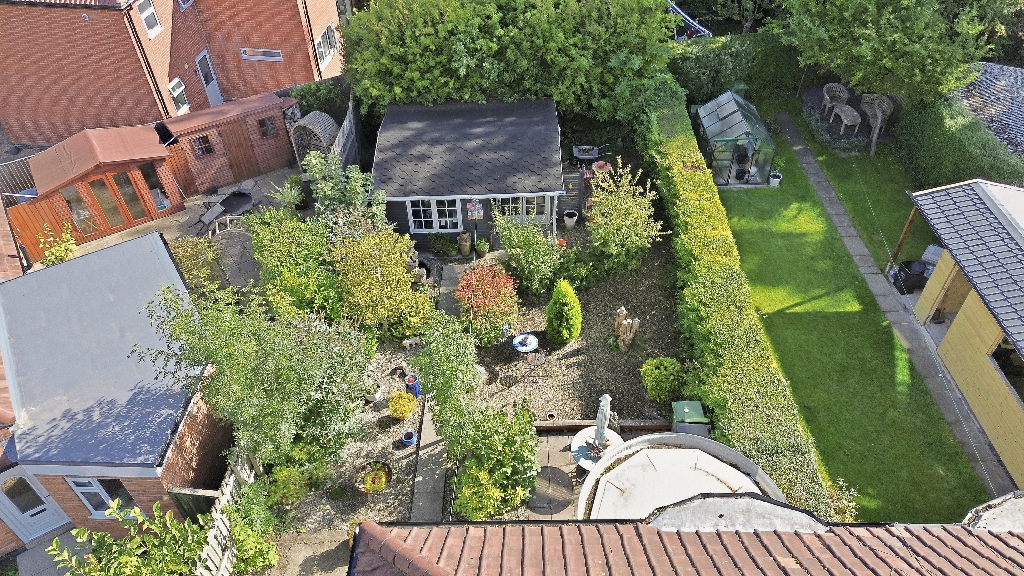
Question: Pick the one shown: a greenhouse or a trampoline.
greenhouse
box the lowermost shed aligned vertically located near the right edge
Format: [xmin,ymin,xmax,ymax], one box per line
[886,176,1024,489]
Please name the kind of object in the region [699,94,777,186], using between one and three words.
greenhouse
